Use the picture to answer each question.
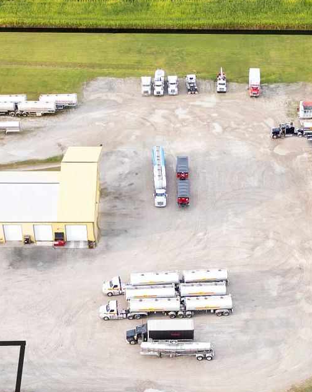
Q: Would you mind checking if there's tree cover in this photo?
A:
No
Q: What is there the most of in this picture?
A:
paved ground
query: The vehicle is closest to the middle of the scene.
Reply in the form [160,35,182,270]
[154,186,167,207]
